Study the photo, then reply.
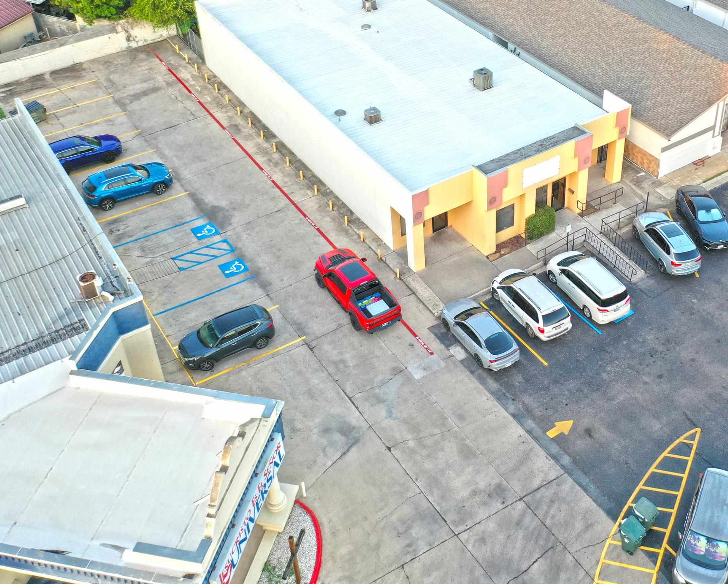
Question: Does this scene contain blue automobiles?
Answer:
Yes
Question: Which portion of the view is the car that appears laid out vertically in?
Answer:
bottom right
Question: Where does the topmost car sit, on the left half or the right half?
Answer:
left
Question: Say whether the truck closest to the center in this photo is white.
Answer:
No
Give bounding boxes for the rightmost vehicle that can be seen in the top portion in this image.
[672,184,728,252]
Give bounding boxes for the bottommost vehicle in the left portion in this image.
[174,301,280,373]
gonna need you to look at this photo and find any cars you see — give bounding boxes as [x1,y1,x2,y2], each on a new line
[664,466,728,584]
[440,300,528,381]
[174,301,280,373]
[542,250,633,327]
[672,184,728,252]
[489,270,579,351]
[630,208,703,281]
[77,161,177,213]
[50,124,144,170]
